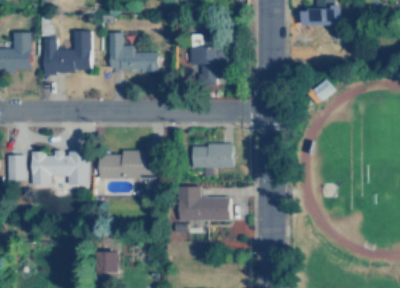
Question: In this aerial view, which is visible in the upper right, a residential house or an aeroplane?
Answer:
residential house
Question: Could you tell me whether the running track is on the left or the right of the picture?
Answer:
right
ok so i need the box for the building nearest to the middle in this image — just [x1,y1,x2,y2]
[192,143,236,168]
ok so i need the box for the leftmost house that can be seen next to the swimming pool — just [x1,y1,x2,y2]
[30,150,92,186]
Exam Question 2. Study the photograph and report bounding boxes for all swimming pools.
[94,178,136,196]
